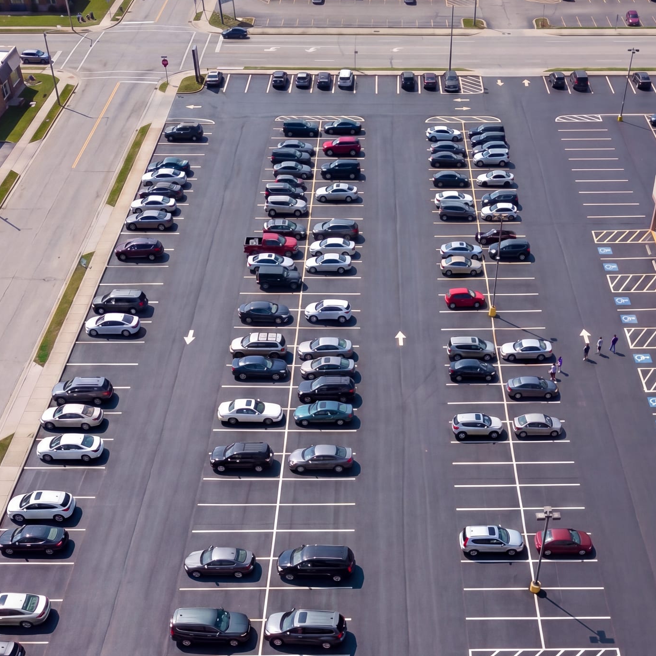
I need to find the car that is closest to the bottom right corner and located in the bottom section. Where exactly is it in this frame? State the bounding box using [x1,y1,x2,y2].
[529,526,594,555]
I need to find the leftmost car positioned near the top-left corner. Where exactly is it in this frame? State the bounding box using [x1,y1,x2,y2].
[17,48,49,64]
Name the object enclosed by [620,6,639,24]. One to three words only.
car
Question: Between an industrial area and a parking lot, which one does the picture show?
parking lot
